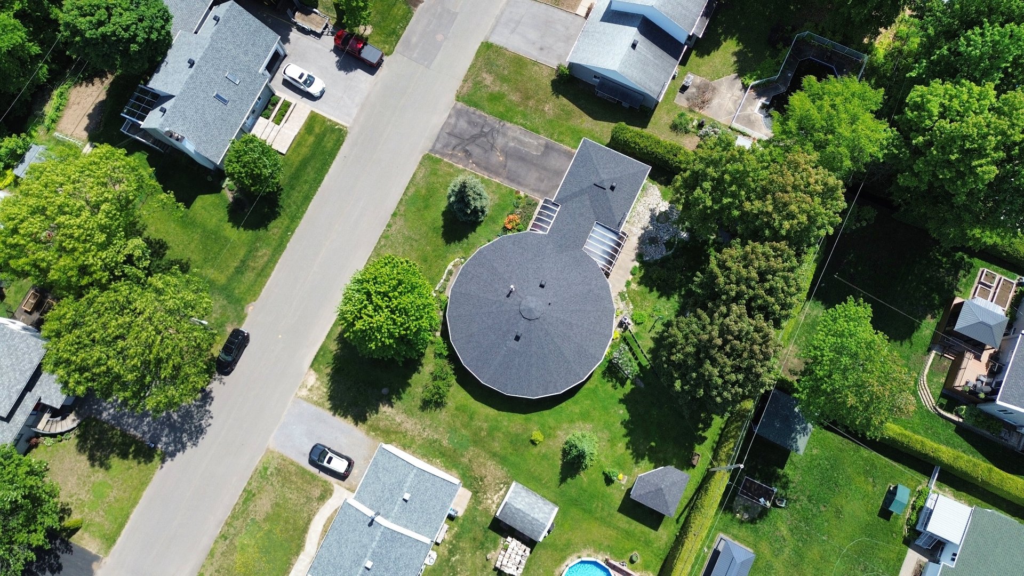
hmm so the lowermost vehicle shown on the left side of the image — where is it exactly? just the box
[307,446,357,478]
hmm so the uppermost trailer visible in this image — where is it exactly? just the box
[284,1,339,35]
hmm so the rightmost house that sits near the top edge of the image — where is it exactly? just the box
[565,0,719,116]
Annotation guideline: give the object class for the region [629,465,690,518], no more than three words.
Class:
gazebo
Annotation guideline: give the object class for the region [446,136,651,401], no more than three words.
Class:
house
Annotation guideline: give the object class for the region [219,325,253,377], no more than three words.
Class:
car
